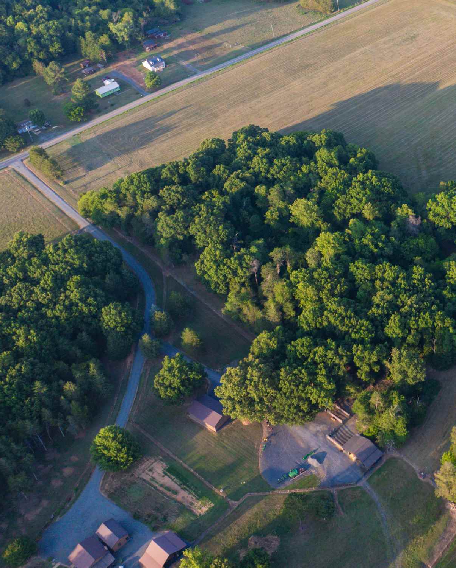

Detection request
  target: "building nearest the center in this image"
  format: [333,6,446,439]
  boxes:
[188,396,223,435]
